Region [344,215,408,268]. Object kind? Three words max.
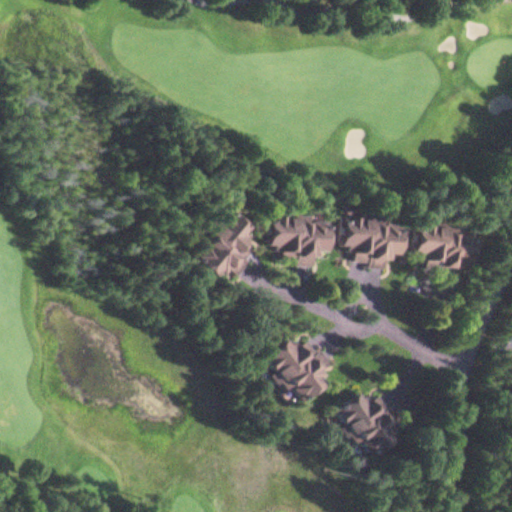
house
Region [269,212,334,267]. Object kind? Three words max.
house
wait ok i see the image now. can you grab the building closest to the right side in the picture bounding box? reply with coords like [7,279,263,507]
[419,222,482,276]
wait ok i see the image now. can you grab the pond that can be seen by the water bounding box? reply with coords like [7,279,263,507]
[44,303,182,423]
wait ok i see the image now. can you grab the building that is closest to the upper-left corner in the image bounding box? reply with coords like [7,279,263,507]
[200,215,261,285]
